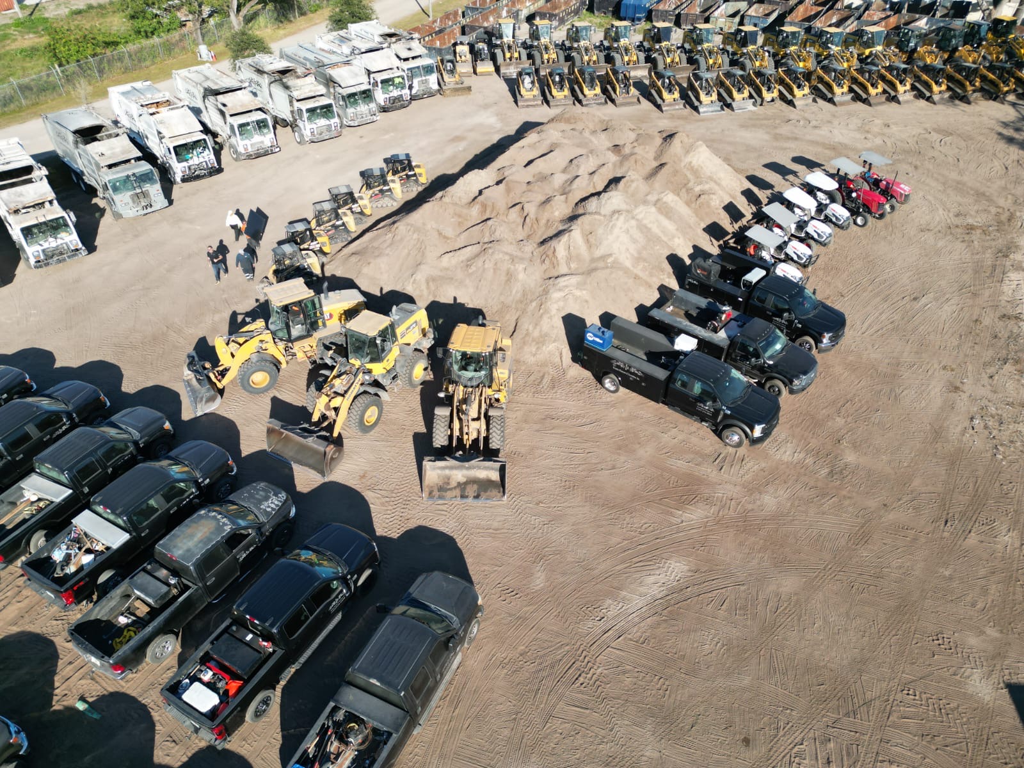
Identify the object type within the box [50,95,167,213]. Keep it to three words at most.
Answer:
truck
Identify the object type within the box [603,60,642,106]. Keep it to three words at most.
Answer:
work vehicle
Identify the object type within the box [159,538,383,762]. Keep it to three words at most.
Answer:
truck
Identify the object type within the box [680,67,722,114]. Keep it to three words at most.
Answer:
work vehicle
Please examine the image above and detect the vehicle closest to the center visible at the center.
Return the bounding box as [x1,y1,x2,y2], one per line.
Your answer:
[422,311,509,502]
